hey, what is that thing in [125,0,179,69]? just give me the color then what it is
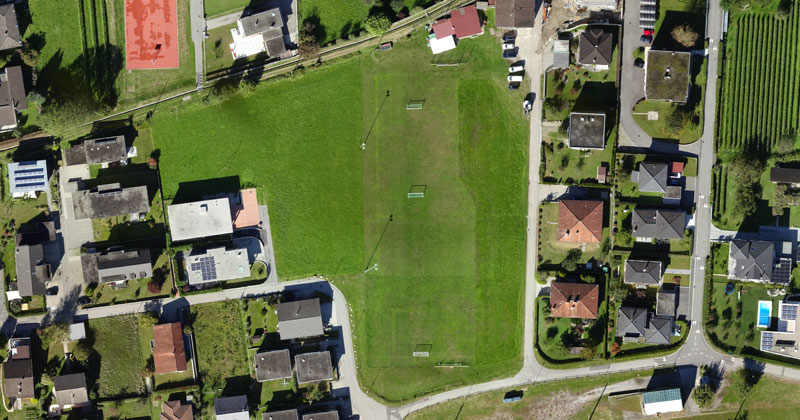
red sports court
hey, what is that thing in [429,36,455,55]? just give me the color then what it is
white tent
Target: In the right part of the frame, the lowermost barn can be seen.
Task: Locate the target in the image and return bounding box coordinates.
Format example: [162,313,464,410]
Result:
[640,386,683,415]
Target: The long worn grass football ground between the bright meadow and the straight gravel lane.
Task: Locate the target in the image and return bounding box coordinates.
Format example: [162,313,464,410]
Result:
[331,38,529,405]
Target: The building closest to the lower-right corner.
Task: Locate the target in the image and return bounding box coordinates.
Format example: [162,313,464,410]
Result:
[759,300,800,358]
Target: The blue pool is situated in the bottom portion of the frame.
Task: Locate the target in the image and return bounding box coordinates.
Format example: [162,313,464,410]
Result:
[758,301,773,329]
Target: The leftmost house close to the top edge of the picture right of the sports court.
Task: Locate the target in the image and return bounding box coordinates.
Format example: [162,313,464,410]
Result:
[230,9,286,60]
